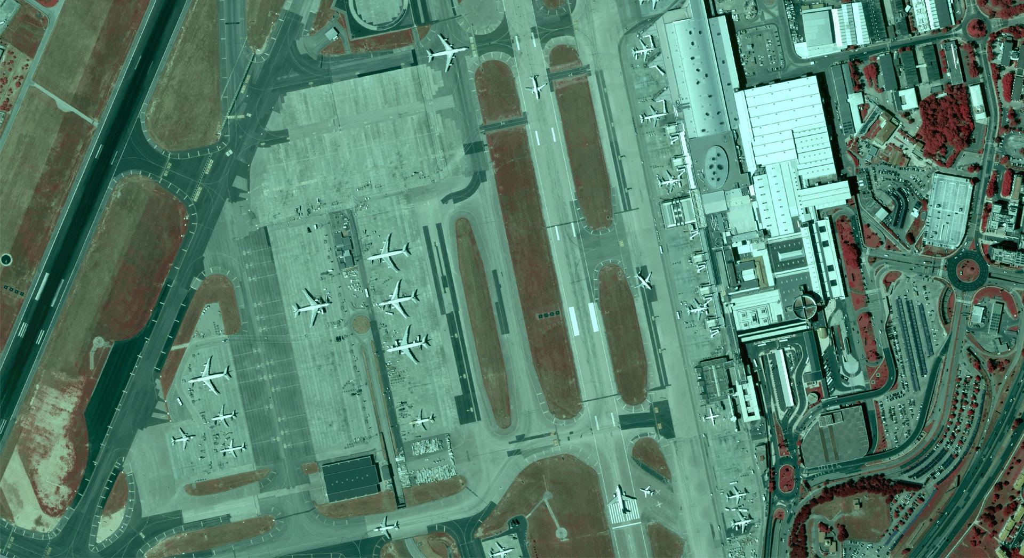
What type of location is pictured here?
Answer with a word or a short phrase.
airport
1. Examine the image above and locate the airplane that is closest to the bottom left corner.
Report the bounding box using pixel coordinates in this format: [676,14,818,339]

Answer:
[171,429,195,450]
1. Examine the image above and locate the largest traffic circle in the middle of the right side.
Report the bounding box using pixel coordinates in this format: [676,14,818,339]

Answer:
[948,251,988,291]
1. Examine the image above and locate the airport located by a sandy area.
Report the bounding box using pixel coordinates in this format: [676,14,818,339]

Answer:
[70,0,768,558]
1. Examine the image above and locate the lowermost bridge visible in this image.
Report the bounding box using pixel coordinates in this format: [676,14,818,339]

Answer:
[795,347,895,429]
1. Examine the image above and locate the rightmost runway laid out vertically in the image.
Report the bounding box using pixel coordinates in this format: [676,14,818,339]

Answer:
[503,0,648,558]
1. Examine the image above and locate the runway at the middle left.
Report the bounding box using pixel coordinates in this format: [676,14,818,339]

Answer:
[0,0,186,442]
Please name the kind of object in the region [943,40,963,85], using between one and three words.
building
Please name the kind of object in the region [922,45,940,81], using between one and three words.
shed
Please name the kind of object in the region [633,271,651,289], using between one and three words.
airplane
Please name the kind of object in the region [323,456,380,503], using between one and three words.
hangar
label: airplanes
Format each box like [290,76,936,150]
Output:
[687,299,708,321]
[639,0,656,11]
[188,356,232,396]
[609,484,638,514]
[387,324,432,364]
[220,439,247,459]
[212,404,238,427]
[427,33,469,73]
[640,486,655,498]
[730,512,752,534]
[374,516,400,538]
[633,271,651,289]
[367,232,411,273]
[631,40,654,61]
[292,288,331,328]
[725,487,748,506]
[524,75,547,99]
[171,429,195,450]
[378,279,420,318]
[703,410,719,426]
[640,106,668,128]
[657,171,682,195]
[488,541,515,558]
